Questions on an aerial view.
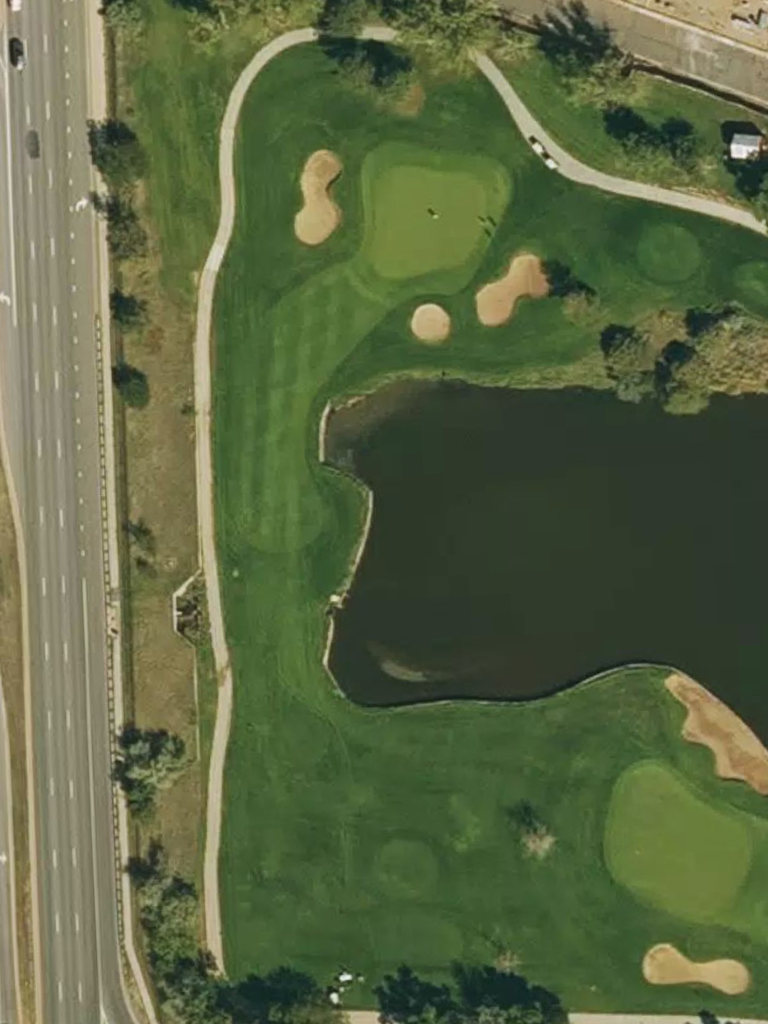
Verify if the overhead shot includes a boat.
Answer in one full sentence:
No, I can't see a single boat in this photo.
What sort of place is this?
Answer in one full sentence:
What you see here is a golf course.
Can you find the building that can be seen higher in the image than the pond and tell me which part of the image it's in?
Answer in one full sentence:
The building that can be seen higher in the image than the pond is located in the top right region of the scene.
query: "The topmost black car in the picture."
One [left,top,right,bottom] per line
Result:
[10,38,23,65]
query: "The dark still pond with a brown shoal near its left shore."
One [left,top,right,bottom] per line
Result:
[324,376,768,749]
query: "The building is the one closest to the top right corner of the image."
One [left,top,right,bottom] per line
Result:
[732,132,763,159]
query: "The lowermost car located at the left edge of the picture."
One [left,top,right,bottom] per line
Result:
[27,130,40,158]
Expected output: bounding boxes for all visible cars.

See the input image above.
[10,38,23,65]
[10,0,21,11]
[27,130,40,158]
